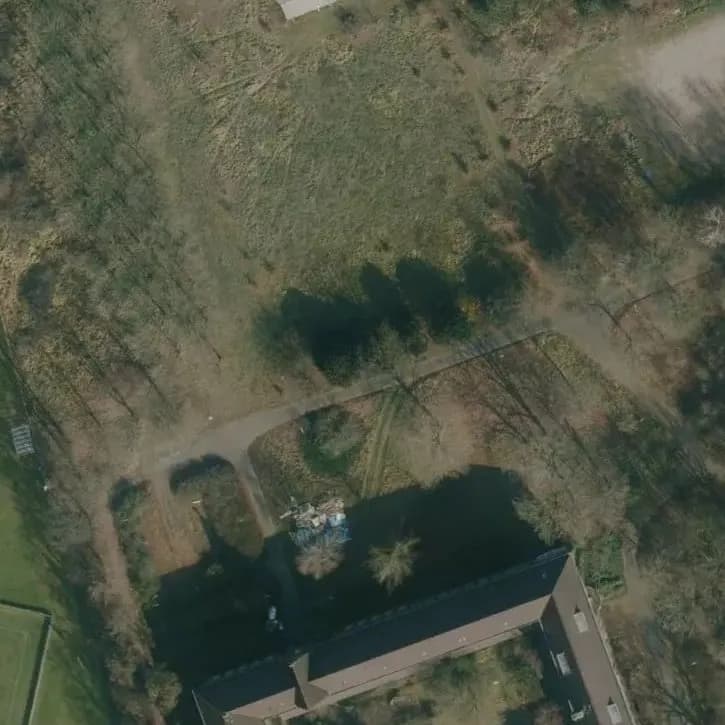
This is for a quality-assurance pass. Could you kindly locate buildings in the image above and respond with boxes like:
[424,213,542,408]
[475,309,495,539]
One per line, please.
[278,0,331,20]
[189,547,640,725]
